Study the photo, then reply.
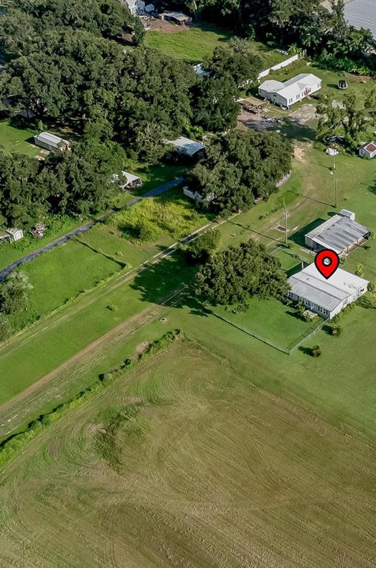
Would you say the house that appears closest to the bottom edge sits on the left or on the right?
right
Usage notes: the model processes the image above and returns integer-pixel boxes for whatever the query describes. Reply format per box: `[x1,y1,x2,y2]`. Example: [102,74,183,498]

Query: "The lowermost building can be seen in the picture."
[278,254,372,318]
